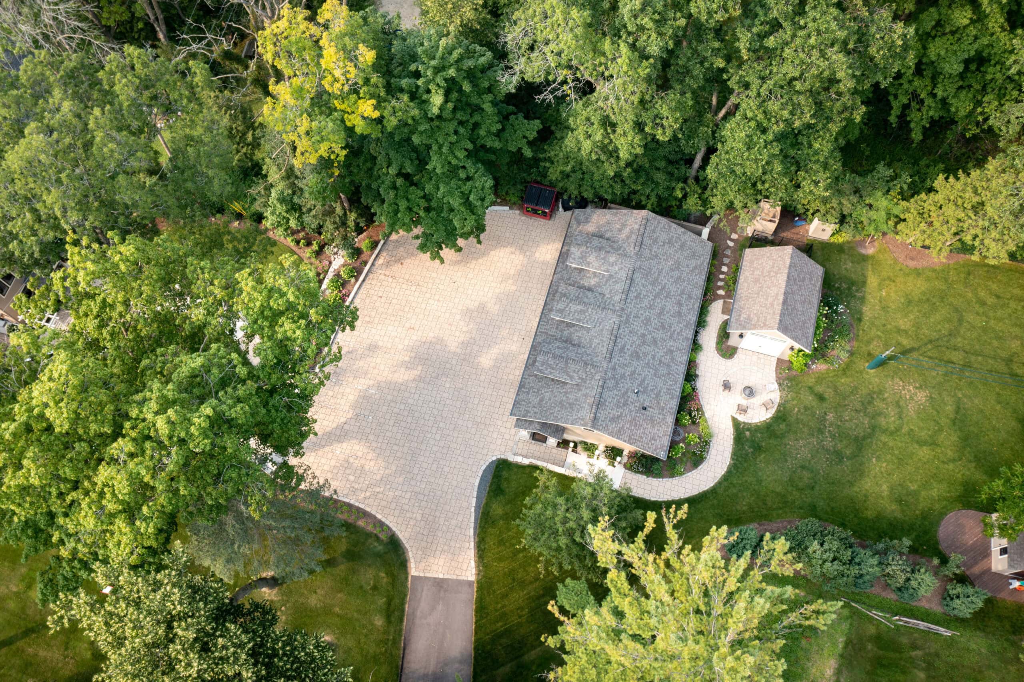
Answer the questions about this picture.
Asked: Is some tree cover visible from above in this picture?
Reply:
Yes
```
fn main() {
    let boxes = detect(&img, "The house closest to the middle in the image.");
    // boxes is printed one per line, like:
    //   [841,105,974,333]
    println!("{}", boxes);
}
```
[509,209,715,461]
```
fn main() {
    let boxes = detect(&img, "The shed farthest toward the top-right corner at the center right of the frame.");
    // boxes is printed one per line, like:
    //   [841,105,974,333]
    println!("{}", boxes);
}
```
[724,245,826,362]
